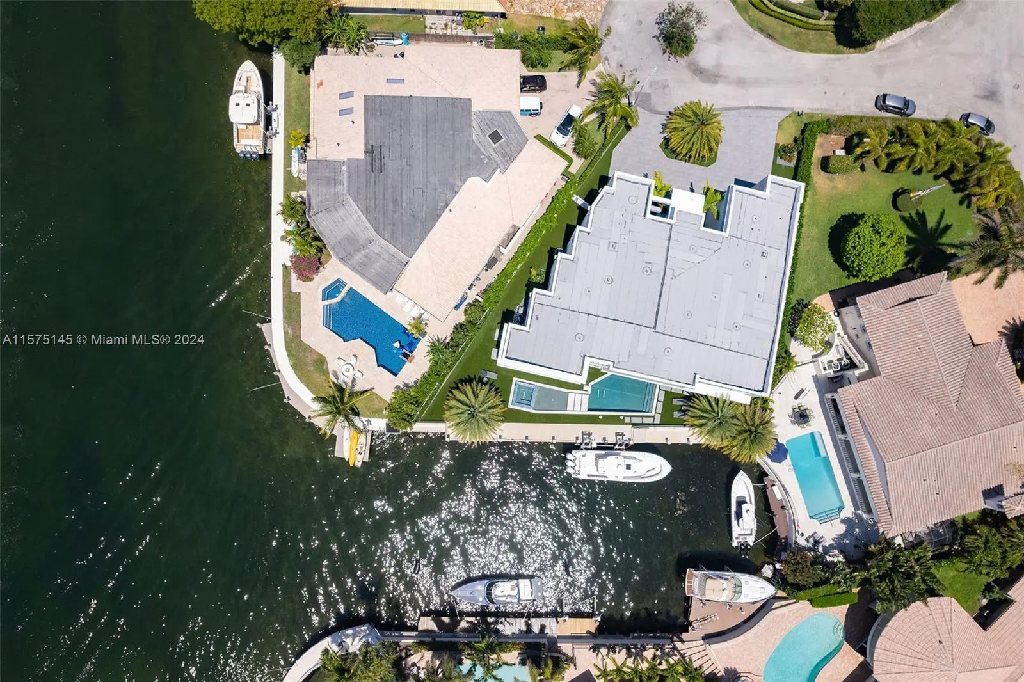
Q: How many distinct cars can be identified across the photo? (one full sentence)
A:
In total, 5 cars can be seen.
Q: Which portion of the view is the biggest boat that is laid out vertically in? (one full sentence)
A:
The biggest boat that is laid out vertically sits in the top left section of the image.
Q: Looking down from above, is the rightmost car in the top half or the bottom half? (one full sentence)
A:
Seen from above, the rightmost car lies in the top half of the view.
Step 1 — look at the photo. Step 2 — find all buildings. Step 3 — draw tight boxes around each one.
[307,42,569,322]
[336,0,507,20]
[815,271,1024,534]
[497,172,804,405]
[865,572,1024,682]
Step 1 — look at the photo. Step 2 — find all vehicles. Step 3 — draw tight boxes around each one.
[876,91,921,115]
[551,100,584,148]
[520,72,547,92]
[520,93,543,115]
[960,108,1002,135]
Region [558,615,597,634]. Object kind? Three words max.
pier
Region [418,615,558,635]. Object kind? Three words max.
pier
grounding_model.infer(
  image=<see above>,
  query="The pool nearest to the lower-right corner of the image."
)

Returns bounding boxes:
[760,613,845,682]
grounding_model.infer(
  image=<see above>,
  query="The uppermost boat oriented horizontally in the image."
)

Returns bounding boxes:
[565,450,673,483]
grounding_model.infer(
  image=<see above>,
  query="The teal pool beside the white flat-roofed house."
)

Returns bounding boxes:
[509,373,660,416]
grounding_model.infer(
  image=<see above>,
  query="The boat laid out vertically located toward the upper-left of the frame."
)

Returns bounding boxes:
[227,58,265,160]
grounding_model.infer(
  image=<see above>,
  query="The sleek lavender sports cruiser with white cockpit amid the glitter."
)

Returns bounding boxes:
[449,579,543,607]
